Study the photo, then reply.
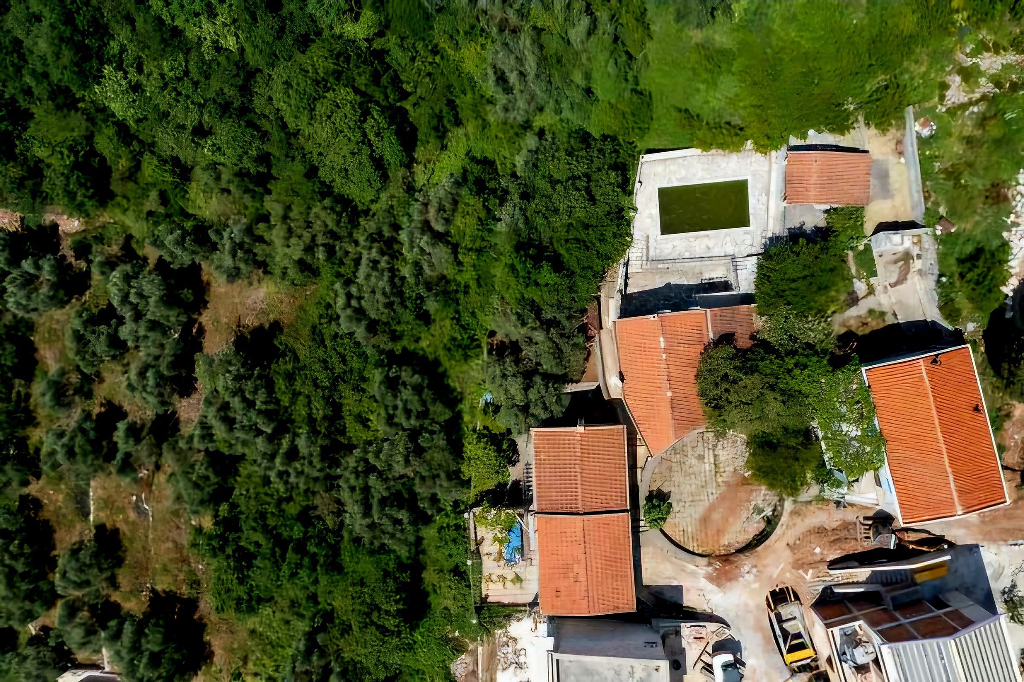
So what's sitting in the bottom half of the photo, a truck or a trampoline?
truck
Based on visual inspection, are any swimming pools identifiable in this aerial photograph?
Yes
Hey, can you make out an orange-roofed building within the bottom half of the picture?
Yes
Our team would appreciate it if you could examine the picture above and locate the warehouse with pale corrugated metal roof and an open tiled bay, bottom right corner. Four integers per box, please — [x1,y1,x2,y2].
[810,587,1024,682]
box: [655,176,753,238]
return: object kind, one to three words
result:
swimming pool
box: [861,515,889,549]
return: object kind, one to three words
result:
trailer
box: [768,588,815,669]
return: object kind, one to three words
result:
truck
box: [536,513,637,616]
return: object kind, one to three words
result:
house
